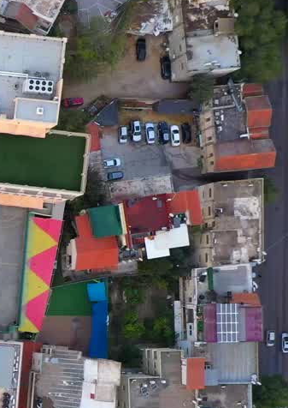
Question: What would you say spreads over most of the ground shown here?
buildings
